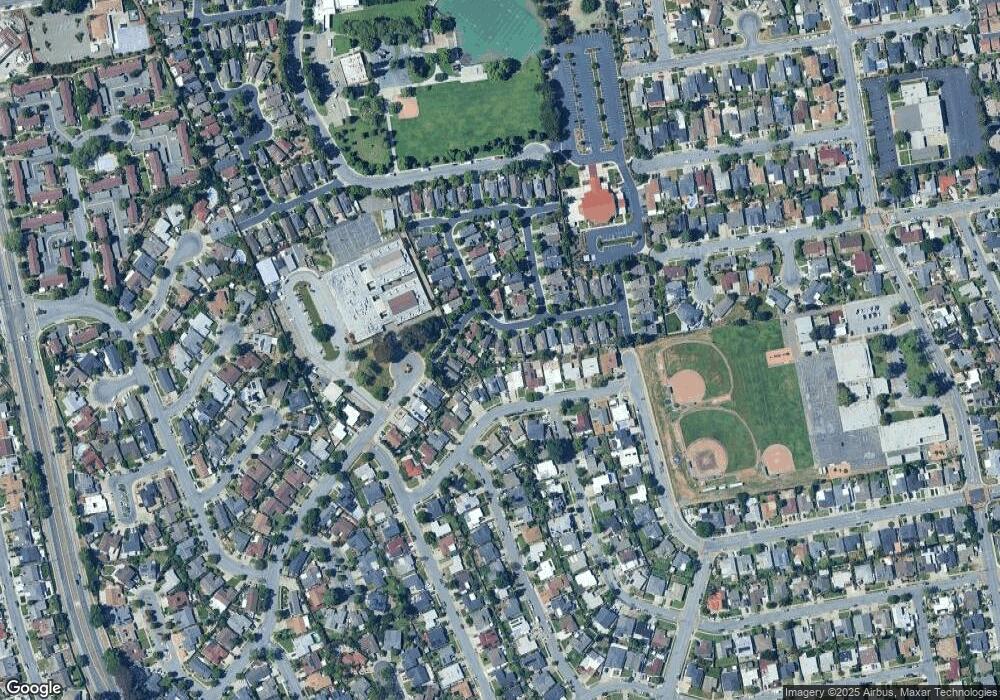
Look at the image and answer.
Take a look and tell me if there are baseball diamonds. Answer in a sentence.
Yes, I can see a baseball diamond in this picture.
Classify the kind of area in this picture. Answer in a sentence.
The area seen from above is a residential area.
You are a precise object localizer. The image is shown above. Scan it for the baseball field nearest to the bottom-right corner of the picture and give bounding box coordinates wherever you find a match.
[763,444,795,475]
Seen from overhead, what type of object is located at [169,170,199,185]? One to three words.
building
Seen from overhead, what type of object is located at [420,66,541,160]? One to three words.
sports field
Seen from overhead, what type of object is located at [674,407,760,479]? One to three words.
baseball field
